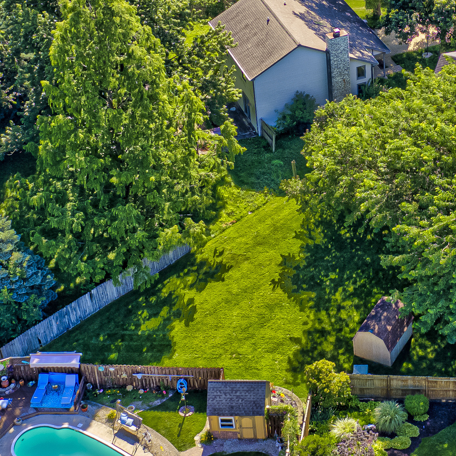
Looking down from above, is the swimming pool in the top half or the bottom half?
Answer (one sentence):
The bottom half of the photo is where the swimming pool is.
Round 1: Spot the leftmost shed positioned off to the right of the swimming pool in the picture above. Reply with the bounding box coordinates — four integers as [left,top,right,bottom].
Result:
[206,380,271,439]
